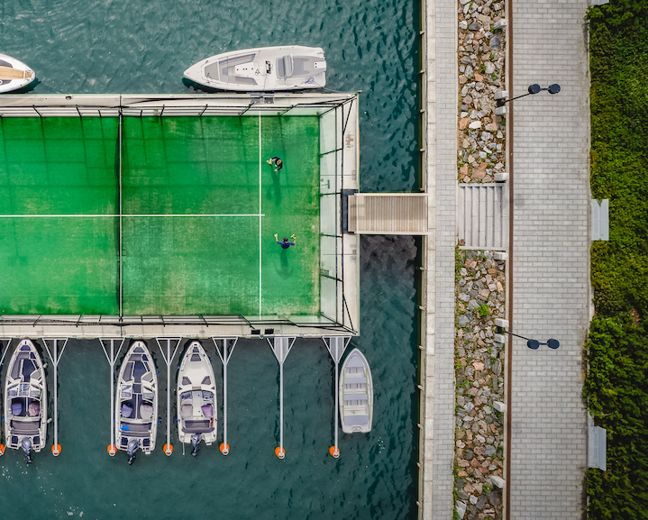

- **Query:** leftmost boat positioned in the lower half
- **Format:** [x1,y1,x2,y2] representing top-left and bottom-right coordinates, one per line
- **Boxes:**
[5,339,48,465]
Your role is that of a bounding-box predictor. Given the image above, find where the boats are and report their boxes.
[338,348,373,433]
[177,341,218,457]
[183,45,326,92]
[115,340,159,466]
[0,54,36,93]
[5,339,48,465]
